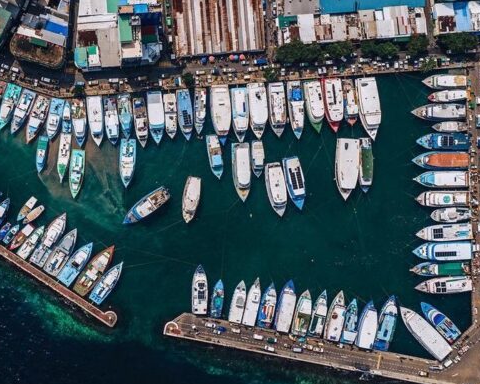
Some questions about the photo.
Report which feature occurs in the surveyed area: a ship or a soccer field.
ship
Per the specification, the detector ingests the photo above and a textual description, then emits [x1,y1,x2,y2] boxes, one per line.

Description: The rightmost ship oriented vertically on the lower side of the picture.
[375,295,398,352]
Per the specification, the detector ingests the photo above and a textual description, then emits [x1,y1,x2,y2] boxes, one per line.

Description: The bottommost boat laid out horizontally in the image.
[414,278,474,296]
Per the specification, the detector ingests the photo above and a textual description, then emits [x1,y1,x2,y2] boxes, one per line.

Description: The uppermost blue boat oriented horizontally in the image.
[416,133,472,151]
